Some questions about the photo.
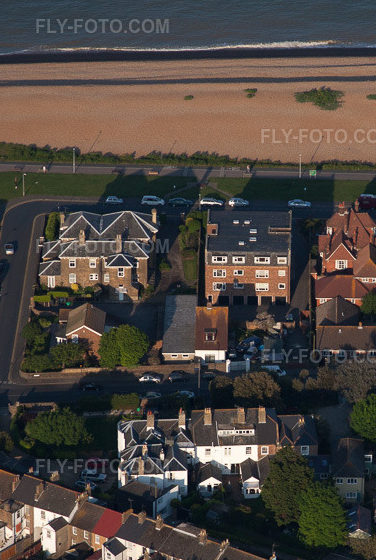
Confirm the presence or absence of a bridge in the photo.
No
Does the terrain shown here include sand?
Yes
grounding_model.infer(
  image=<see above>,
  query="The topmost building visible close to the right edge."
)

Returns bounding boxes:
[313,198,376,301]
